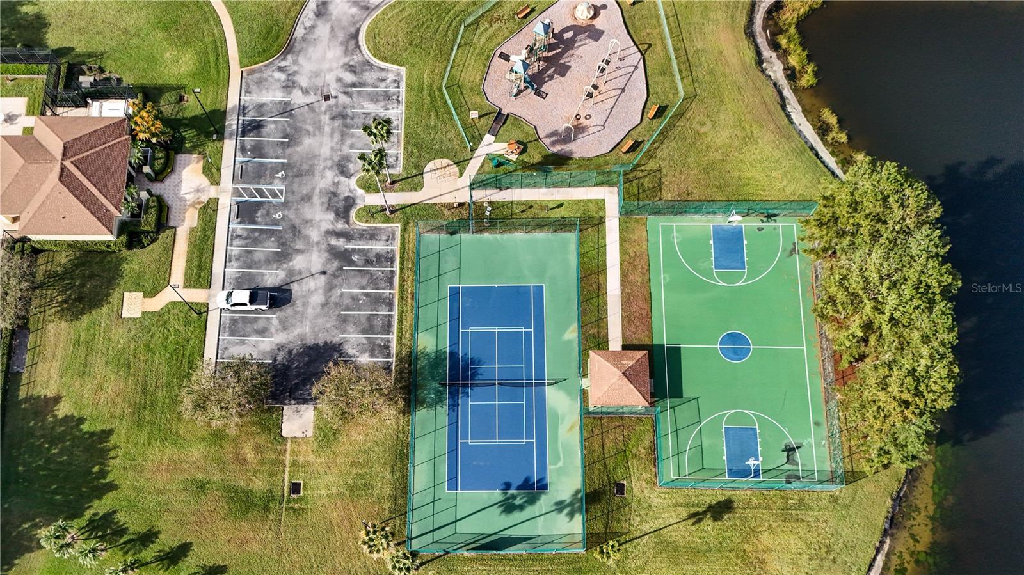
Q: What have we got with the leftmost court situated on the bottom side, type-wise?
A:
tennis court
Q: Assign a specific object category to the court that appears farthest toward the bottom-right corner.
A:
basketball court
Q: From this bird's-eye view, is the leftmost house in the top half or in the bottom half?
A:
top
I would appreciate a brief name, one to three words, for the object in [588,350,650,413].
building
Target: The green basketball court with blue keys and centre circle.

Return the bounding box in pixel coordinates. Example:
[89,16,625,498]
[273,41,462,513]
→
[647,216,831,489]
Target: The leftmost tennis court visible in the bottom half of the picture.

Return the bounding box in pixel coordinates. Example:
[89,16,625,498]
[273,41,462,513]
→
[409,232,585,552]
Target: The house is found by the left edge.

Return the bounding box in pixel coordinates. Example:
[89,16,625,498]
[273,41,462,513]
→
[0,116,134,241]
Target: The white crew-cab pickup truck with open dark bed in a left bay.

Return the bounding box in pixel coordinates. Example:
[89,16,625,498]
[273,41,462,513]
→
[216,290,272,313]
